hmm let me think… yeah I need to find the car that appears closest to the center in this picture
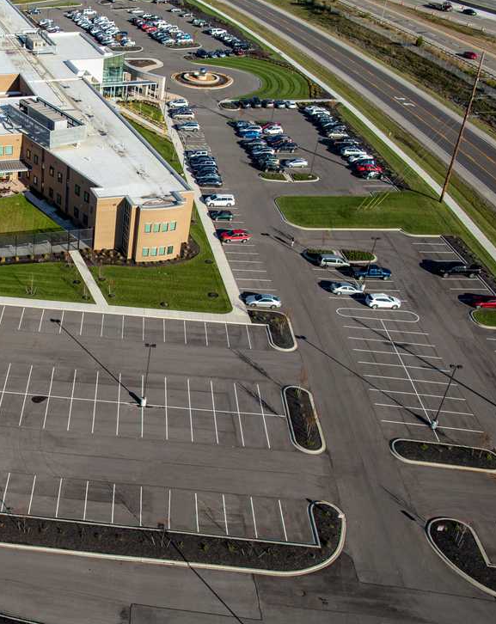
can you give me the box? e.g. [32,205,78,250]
[245,294,282,309]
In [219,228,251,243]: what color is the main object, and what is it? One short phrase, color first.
red car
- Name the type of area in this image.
parking lot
